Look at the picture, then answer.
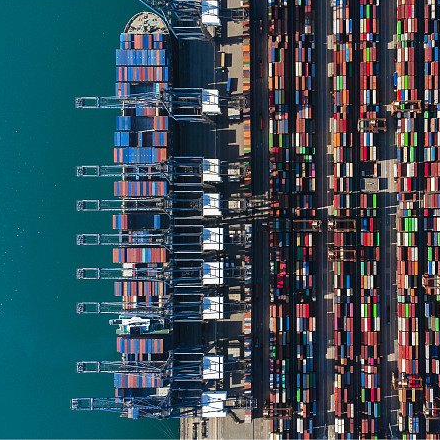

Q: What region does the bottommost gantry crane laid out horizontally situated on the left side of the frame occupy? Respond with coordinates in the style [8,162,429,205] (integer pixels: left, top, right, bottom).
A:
[70,373,249,424]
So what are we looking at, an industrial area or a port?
port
